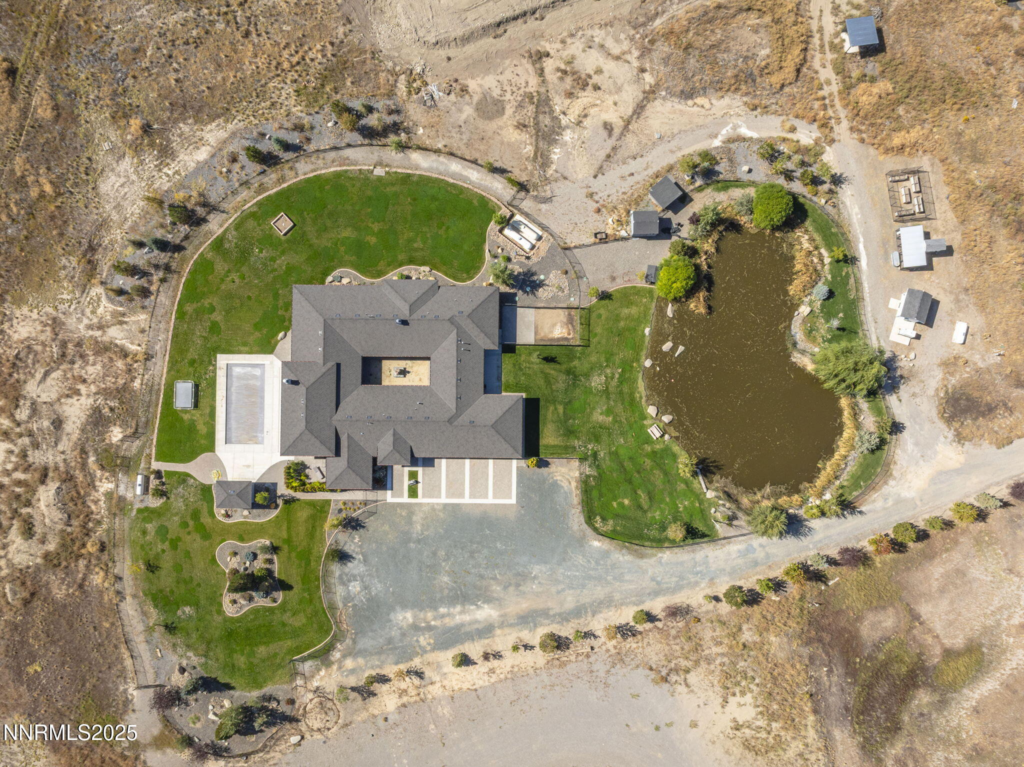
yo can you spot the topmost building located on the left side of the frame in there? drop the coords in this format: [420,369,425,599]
[280,279,525,490]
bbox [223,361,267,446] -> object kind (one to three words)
swimming pool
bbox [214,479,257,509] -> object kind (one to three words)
gazebo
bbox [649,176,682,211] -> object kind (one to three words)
shed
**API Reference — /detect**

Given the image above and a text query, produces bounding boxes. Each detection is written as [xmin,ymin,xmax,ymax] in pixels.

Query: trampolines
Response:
[174,381,197,409]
